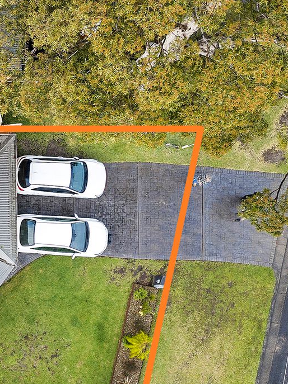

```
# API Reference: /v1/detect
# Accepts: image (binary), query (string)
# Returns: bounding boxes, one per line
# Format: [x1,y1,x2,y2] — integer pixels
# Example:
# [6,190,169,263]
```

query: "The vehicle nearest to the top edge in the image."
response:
[19,155,103,199]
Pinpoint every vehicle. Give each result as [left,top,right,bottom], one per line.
[19,214,105,258]
[19,155,103,199]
